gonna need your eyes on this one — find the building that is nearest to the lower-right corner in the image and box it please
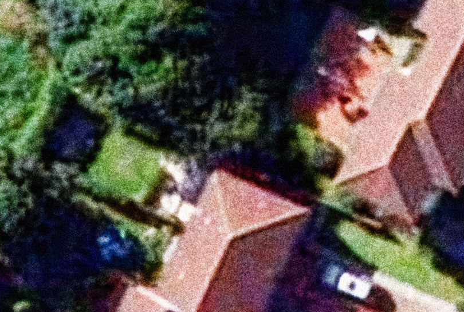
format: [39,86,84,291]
[335,96,460,222]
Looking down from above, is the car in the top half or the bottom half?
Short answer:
bottom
